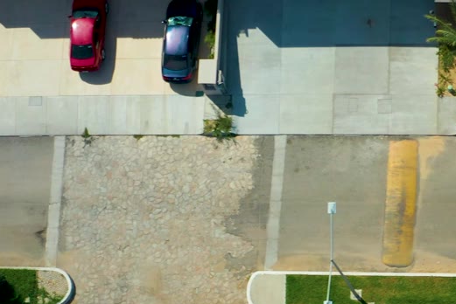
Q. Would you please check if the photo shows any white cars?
No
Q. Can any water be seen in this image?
No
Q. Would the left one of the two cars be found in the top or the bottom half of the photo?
top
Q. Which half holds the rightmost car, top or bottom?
top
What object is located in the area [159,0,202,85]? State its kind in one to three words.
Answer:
car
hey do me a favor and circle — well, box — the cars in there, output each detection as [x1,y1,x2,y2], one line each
[68,0,112,73]
[159,0,202,85]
